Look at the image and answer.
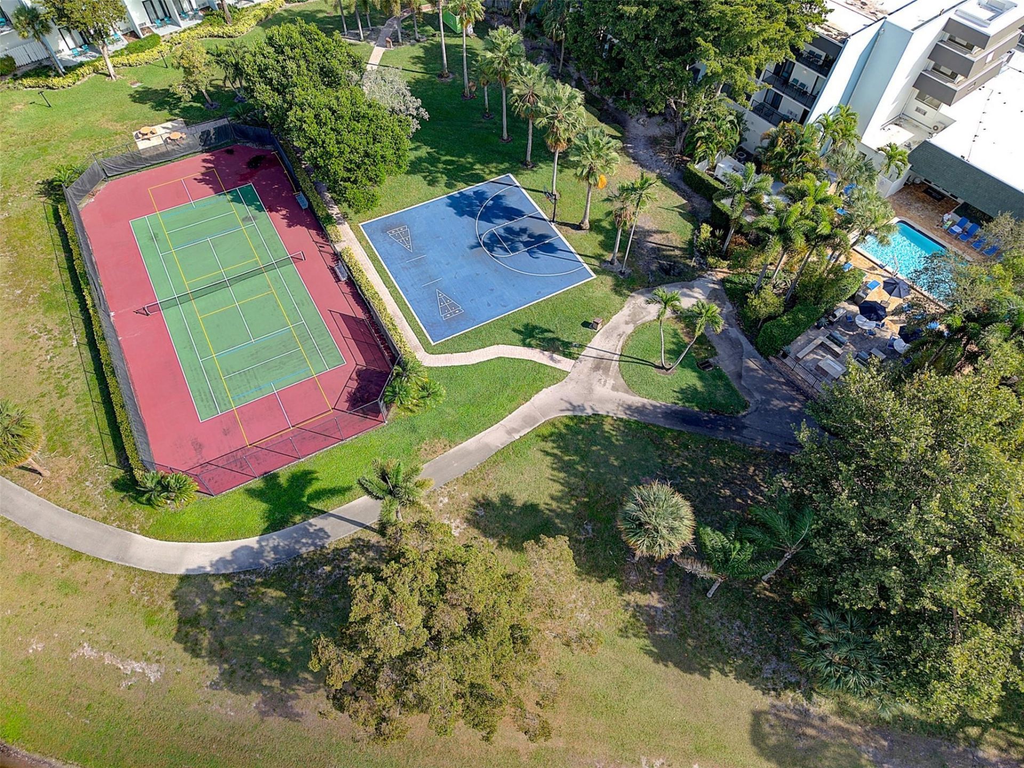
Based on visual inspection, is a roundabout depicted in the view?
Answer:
No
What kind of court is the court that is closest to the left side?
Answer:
tennis court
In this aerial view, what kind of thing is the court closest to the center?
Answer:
basketball court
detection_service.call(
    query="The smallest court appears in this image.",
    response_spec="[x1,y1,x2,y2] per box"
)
[359,174,596,344]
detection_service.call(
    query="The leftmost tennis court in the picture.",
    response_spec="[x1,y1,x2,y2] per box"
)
[80,144,397,496]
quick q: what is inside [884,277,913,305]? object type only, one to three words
umbrella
